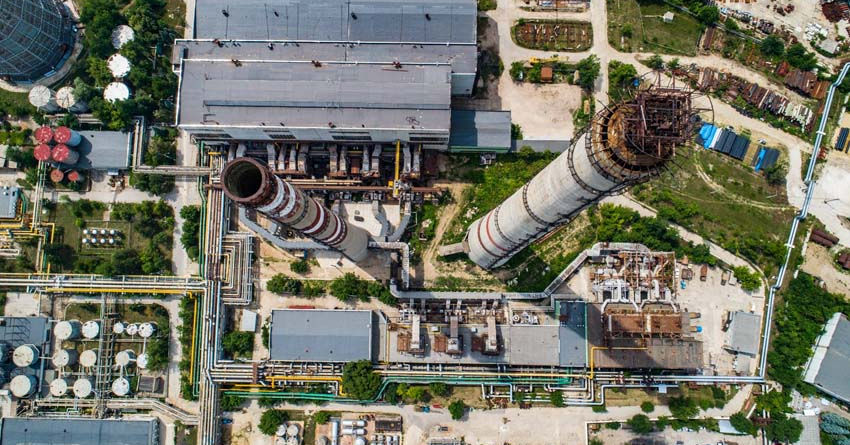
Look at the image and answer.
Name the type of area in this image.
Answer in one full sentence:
The picture captures an industrial area.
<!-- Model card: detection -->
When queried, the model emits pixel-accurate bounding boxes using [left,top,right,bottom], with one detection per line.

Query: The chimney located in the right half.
[438,76,700,267]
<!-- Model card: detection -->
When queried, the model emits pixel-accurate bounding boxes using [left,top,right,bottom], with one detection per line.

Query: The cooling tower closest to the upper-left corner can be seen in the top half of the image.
[0,0,78,86]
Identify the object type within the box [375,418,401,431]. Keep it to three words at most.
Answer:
shed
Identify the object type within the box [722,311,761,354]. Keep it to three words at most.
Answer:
building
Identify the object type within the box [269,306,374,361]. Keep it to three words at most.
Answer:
building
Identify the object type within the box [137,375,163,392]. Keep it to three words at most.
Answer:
shed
